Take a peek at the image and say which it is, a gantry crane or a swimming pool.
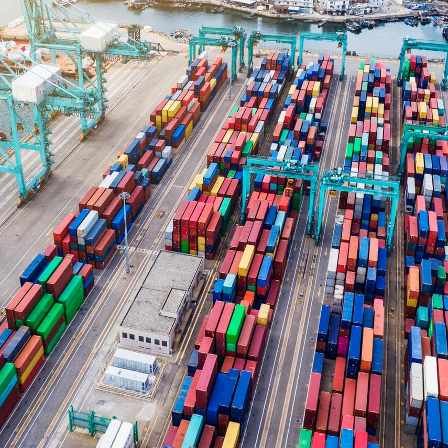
gantry crane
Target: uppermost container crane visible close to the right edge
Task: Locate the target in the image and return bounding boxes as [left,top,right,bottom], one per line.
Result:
[396,37,448,89]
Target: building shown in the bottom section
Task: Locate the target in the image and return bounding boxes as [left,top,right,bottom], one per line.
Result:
[118,250,205,355]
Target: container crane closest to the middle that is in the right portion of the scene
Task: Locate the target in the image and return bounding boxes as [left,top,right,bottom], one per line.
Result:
[239,158,318,236]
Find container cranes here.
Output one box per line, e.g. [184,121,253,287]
[396,37,448,89]
[315,174,400,258]
[0,36,100,207]
[297,31,347,78]
[25,0,154,138]
[239,158,318,236]
[248,30,297,80]
[395,129,448,189]
[205,21,250,68]
[188,35,236,83]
